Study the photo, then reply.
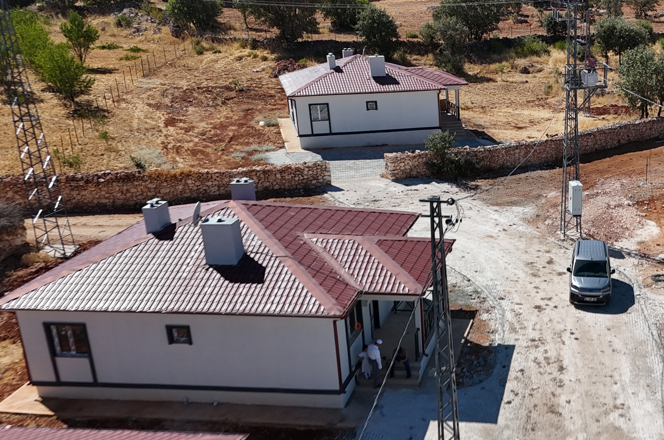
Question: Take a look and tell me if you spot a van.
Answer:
Yes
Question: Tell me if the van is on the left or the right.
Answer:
right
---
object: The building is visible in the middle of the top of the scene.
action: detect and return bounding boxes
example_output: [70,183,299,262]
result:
[278,45,469,153]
